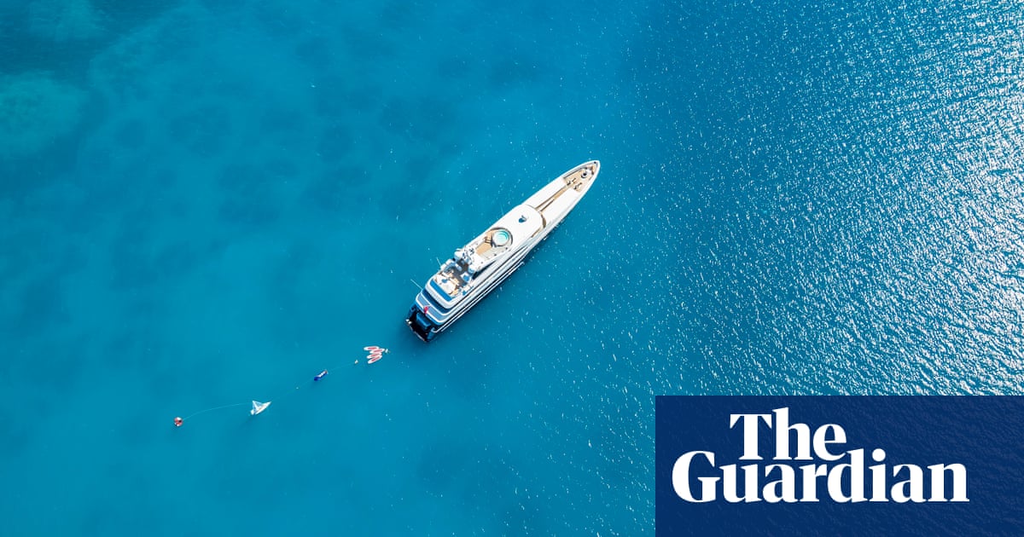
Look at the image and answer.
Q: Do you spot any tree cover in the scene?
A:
No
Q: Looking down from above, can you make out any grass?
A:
No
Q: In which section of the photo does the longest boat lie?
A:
center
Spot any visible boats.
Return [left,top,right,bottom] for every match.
[314,370,329,380]
[407,160,601,341]
[250,400,272,415]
